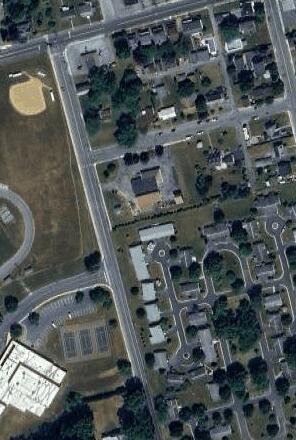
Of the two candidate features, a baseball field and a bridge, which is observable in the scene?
baseball field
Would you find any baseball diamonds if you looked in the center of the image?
No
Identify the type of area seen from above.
residential area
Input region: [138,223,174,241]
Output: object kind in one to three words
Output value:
house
